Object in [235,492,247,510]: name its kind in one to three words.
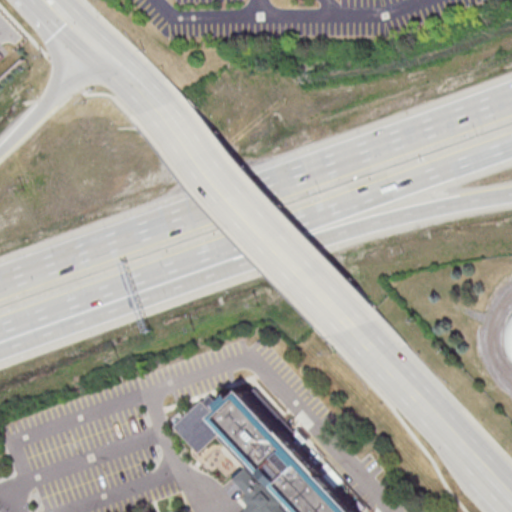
vehicle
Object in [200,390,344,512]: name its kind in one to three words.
building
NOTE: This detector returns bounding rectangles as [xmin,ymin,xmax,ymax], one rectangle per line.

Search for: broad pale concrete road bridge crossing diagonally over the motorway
[132,99,383,338]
